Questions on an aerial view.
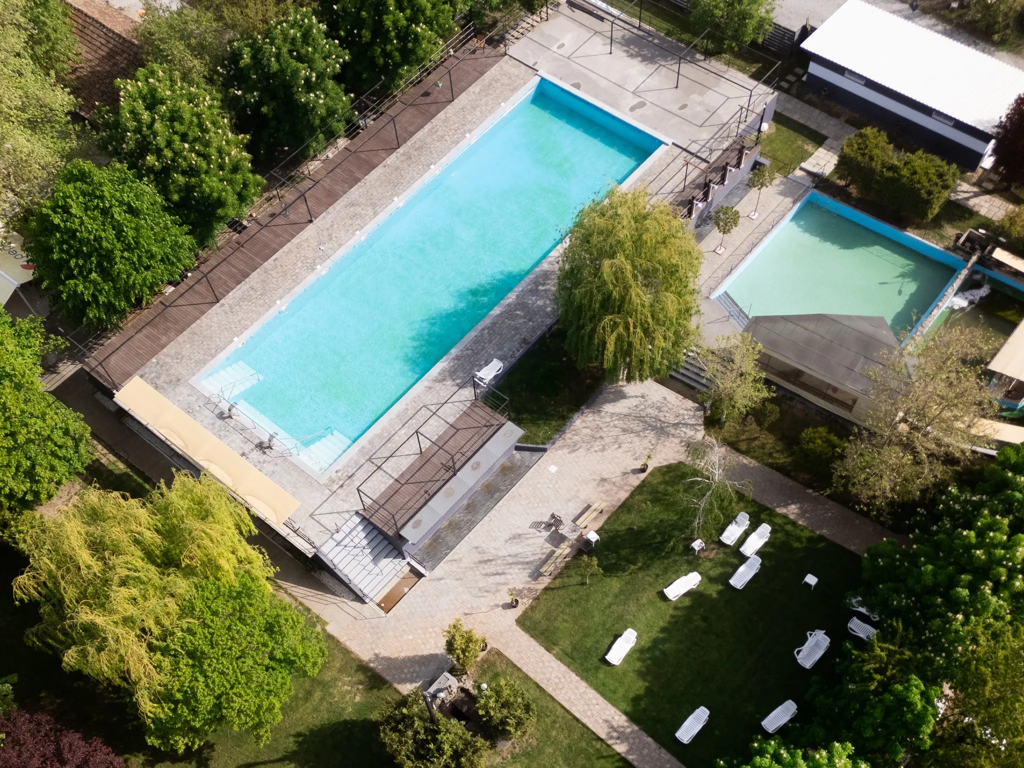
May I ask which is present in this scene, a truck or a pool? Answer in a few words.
pool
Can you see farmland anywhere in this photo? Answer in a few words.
No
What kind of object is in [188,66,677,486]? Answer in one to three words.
swimming pool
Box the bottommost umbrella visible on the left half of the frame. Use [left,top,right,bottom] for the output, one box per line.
[0,271,37,315]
